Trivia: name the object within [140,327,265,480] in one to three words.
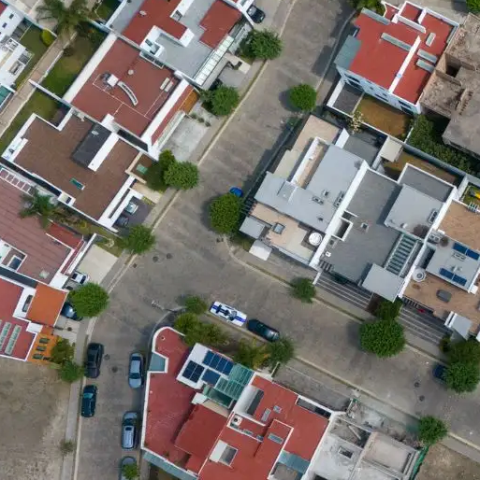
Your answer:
house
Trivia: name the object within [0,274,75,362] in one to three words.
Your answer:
house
